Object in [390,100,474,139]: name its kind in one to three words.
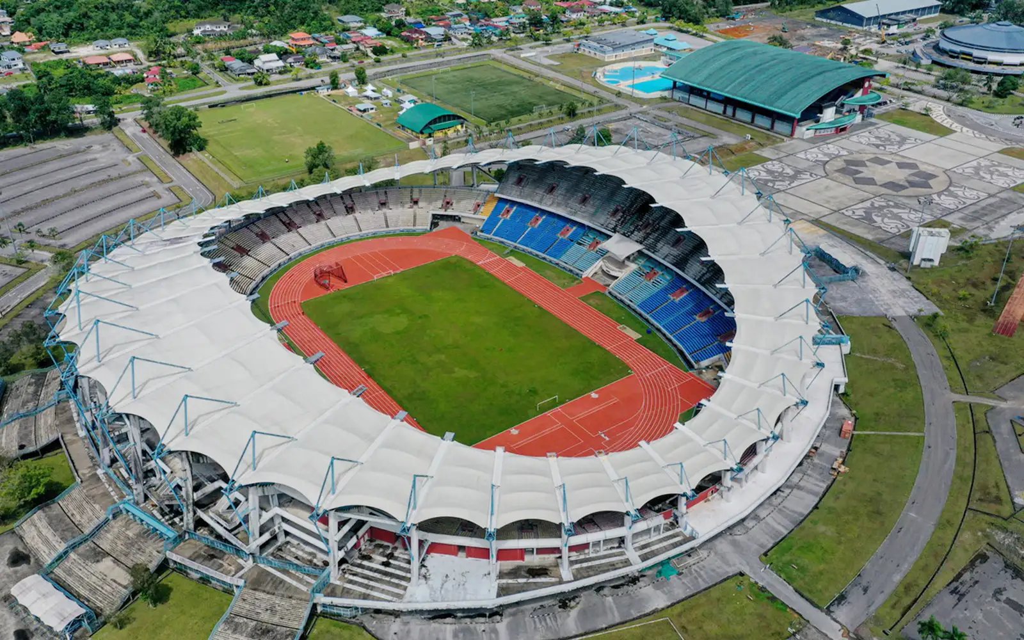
building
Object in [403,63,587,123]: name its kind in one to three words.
sports field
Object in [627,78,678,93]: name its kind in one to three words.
swimming pool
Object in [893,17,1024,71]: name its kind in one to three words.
stadium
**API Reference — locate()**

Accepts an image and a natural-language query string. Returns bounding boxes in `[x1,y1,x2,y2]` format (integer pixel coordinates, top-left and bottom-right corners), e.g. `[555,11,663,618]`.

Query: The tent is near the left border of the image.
[10,572,92,633]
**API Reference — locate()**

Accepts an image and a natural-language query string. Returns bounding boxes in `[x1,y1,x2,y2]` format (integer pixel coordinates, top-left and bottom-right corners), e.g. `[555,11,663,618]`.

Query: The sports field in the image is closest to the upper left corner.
[194,95,406,182]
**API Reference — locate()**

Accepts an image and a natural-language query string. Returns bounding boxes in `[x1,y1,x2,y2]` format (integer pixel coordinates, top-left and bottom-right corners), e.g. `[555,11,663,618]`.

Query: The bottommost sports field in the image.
[302,255,632,448]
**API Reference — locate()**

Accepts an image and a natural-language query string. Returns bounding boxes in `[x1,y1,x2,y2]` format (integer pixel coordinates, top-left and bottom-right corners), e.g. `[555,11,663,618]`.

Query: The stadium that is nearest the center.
[44,125,862,619]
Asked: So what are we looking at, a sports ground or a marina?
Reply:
sports ground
